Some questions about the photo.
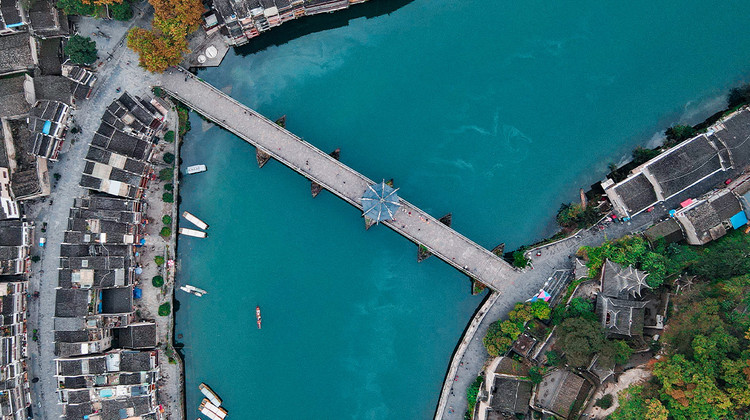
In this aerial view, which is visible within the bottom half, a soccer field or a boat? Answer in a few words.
boat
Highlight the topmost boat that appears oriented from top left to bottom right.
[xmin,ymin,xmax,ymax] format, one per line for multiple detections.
[182,212,208,229]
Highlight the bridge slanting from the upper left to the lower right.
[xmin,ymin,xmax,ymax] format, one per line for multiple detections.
[157,64,516,293]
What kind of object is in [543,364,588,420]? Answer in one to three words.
building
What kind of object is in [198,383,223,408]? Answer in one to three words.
boat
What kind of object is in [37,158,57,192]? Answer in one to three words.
house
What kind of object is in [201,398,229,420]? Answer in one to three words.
boat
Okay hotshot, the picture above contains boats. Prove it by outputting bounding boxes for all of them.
[182,212,208,229]
[178,287,201,297]
[201,398,229,420]
[198,383,223,408]
[185,165,207,173]
[196,406,220,420]
[256,307,261,328]
[183,285,207,294]
[178,229,207,237]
